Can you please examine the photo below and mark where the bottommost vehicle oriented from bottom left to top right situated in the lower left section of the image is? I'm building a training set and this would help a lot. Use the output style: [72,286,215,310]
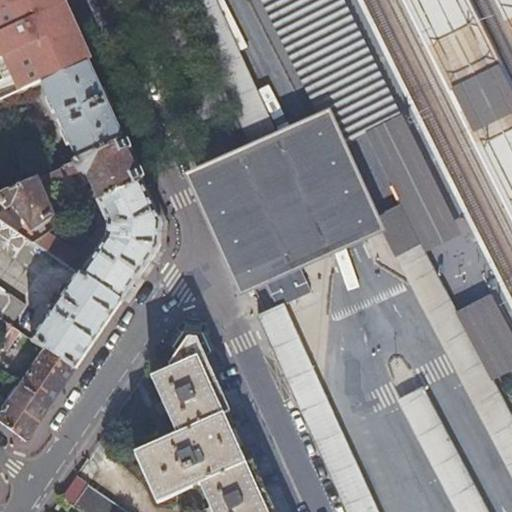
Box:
[50,409,68,430]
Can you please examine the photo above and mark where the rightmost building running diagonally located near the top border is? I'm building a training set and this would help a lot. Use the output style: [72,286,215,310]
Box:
[260,0,401,139]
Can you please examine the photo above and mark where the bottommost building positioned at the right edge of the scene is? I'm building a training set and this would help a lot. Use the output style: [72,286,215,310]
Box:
[456,294,512,380]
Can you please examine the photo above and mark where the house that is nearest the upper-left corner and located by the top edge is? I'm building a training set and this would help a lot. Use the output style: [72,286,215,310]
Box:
[0,0,92,89]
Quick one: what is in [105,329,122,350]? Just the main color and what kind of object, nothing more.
white car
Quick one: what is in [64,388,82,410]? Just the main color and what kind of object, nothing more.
white car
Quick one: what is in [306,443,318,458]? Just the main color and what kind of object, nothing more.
white vehicle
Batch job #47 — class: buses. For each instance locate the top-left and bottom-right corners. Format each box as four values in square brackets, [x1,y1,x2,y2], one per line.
[218,0,250,50]
[258,83,286,122]
[334,249,361,292]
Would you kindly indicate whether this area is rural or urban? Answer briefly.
urban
